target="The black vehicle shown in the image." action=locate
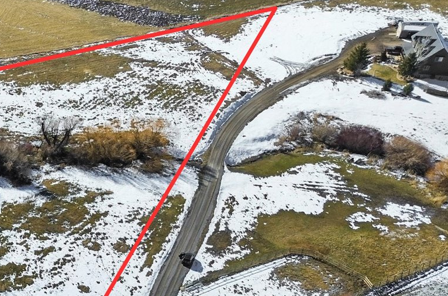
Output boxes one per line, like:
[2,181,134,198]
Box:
[180,256,199,269]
